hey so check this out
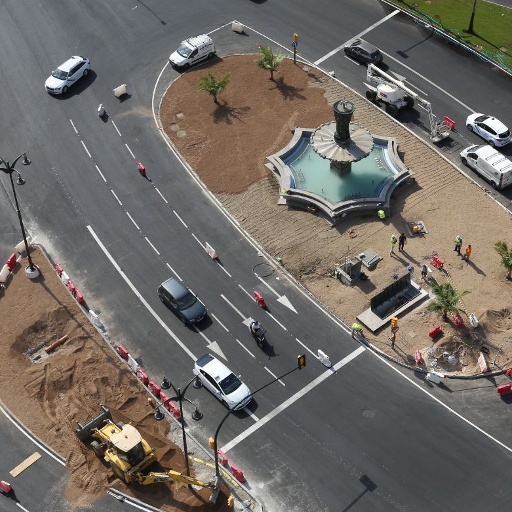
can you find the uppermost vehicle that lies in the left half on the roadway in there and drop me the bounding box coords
[168,31,218,70]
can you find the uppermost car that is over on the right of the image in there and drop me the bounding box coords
[341,38,385,66]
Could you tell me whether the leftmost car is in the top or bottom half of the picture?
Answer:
top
